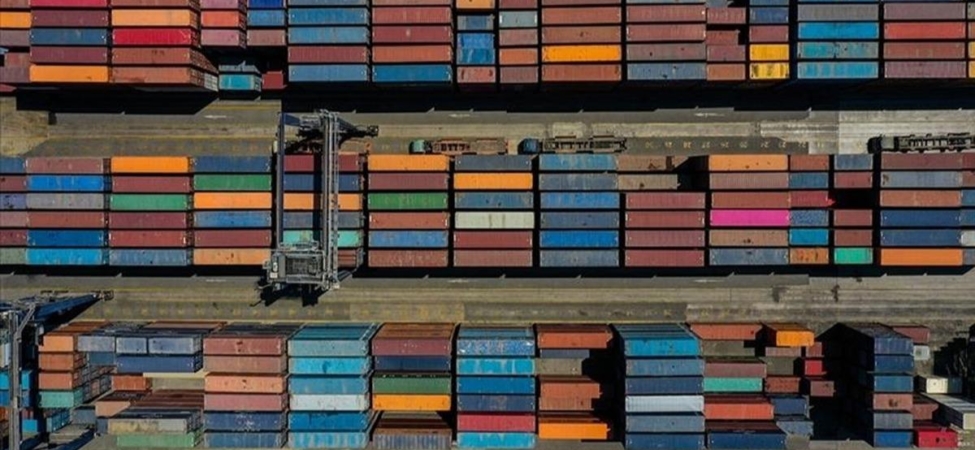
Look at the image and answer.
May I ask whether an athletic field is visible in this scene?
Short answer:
No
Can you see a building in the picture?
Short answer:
No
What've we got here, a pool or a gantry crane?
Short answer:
gantry crane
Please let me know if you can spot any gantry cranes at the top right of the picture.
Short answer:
No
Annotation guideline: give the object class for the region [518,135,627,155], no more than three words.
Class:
vehicle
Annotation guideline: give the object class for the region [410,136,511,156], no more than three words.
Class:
vehicle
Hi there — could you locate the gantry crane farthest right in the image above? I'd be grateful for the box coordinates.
[267,108,382,293]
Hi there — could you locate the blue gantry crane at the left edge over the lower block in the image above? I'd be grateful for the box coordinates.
[0,290,107,450]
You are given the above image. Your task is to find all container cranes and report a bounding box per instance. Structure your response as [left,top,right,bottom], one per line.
[267,108,382,293]
[0,290,107,450]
